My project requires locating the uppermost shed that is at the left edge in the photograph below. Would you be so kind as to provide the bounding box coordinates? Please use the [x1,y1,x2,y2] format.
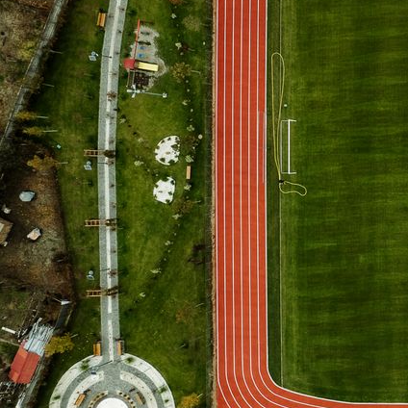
[0,218,23,242]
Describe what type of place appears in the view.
sports ground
